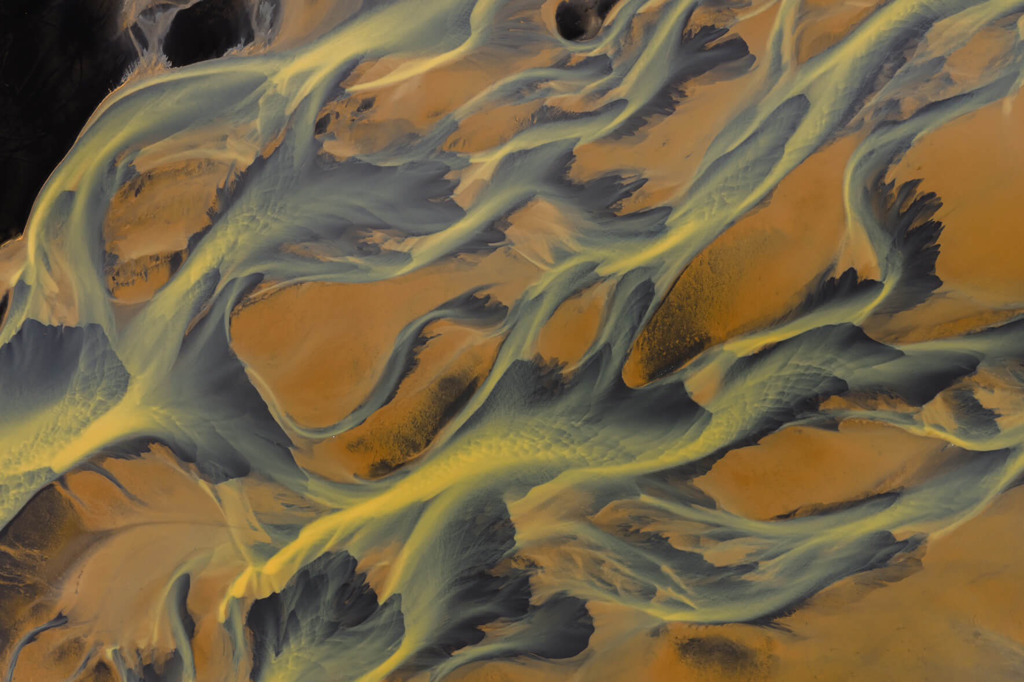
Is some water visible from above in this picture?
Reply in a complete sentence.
Yes, some water is visible.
